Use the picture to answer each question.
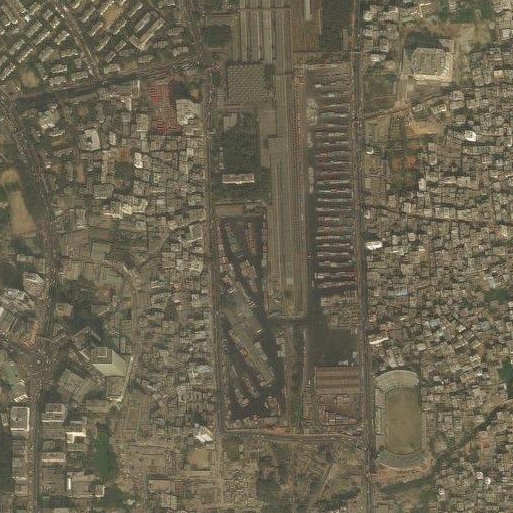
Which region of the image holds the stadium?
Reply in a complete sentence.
You can find the stadium in the bottom right area of the picture.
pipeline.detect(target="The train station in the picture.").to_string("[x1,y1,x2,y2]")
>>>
[217,0,293,307]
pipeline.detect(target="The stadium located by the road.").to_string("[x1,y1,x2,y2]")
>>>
[374,369,428,468]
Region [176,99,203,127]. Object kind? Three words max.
building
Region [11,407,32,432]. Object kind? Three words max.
building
